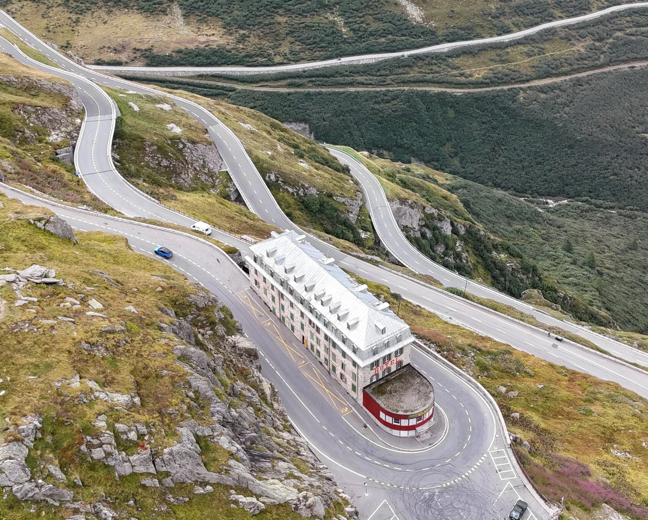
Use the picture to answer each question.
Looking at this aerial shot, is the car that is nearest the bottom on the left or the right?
right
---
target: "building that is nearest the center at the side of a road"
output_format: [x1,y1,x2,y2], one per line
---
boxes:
[244,228,416,408]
